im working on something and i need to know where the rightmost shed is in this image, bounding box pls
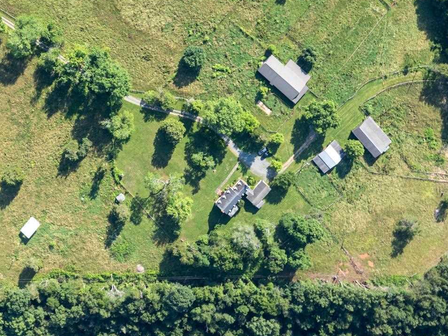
[350,116,392,158]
